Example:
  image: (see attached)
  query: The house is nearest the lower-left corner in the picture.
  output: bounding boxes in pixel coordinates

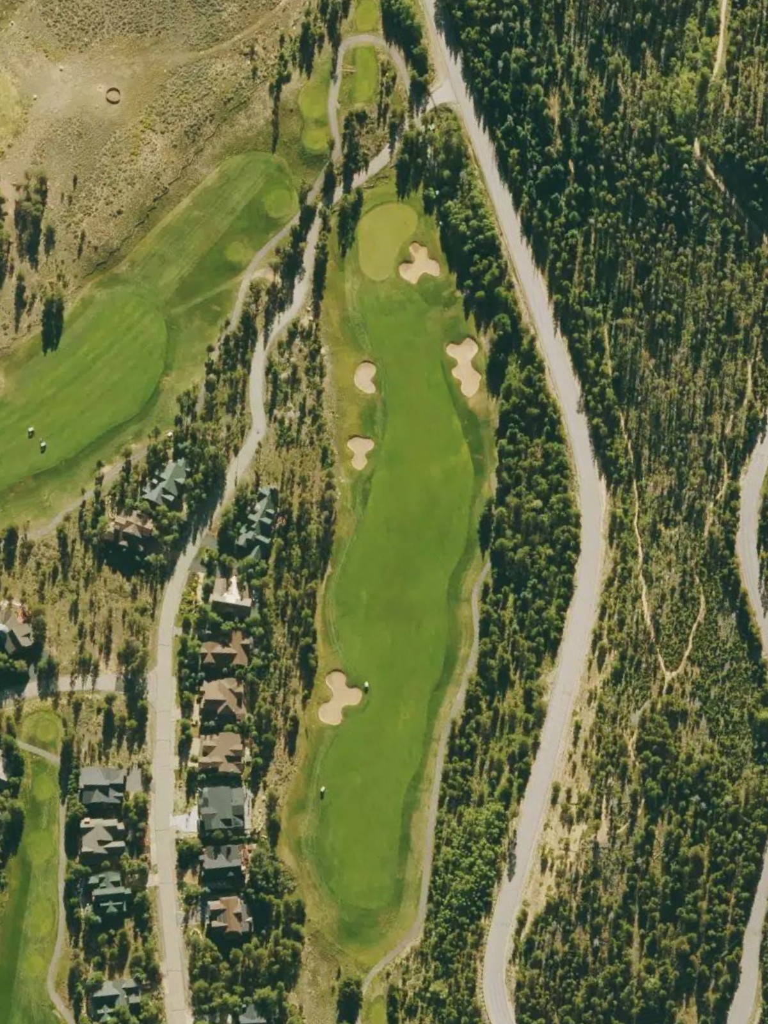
[92,976,151,1023]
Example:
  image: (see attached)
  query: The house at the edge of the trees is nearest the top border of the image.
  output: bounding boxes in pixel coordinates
[141,455,189,507]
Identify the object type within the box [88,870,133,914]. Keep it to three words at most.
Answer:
house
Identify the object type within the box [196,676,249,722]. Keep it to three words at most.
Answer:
house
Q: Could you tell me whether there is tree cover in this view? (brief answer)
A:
Yes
